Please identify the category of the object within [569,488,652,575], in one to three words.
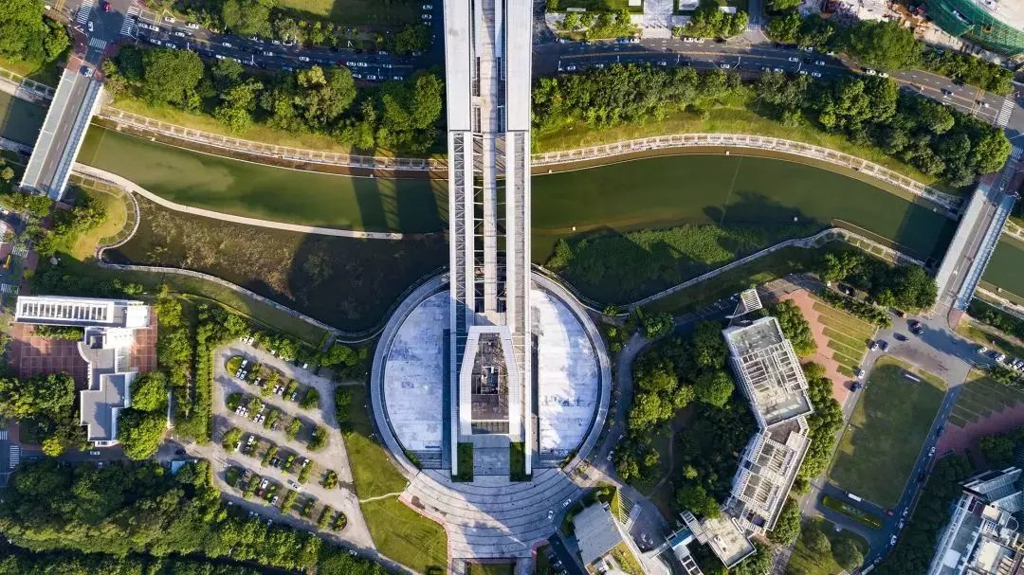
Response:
building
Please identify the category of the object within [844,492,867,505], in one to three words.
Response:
vehicle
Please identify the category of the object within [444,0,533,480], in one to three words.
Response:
building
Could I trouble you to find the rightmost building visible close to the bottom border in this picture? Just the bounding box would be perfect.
[901,468,1024,575]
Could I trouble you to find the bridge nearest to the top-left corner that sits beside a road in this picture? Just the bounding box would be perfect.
[15,66,103,198]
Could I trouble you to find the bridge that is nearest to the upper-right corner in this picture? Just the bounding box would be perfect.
[932,180,1019,305]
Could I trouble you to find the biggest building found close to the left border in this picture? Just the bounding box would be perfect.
[15,296,163,446]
